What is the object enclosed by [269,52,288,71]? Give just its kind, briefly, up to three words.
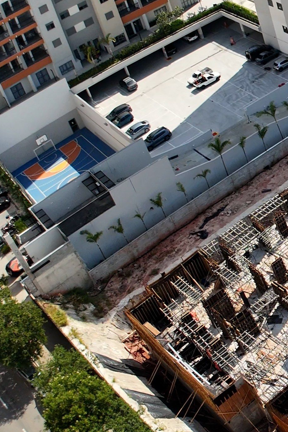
car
